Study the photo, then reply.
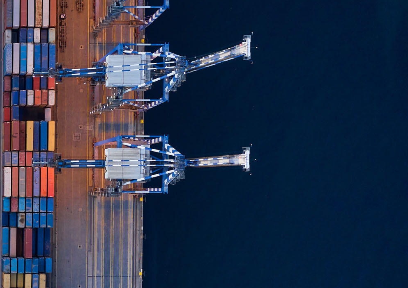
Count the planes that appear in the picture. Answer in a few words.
0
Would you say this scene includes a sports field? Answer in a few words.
No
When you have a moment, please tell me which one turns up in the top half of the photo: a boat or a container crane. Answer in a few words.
container crane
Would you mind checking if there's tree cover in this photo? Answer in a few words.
No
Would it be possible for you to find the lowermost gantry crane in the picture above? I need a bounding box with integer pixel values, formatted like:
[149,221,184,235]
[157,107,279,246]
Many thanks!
[31,132,252,204]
